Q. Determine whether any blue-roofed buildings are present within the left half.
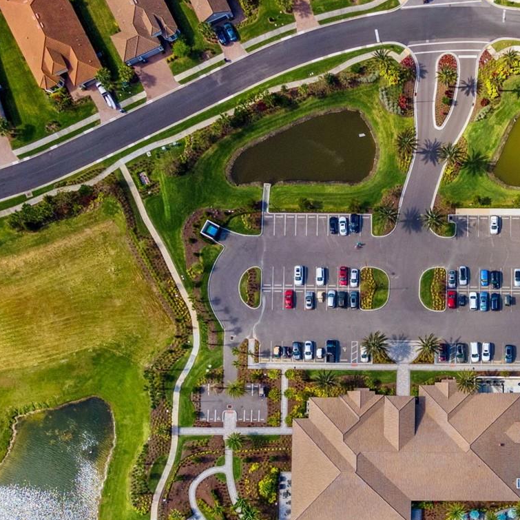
No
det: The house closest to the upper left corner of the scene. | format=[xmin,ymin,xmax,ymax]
[0,0,103,94]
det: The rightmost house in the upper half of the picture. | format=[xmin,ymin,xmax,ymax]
[184,0,228,32]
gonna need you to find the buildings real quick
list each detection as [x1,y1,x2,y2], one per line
[107,0,180,71]
[292,380,520,520]
[0,0,103,94]
[184,0,228,32]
